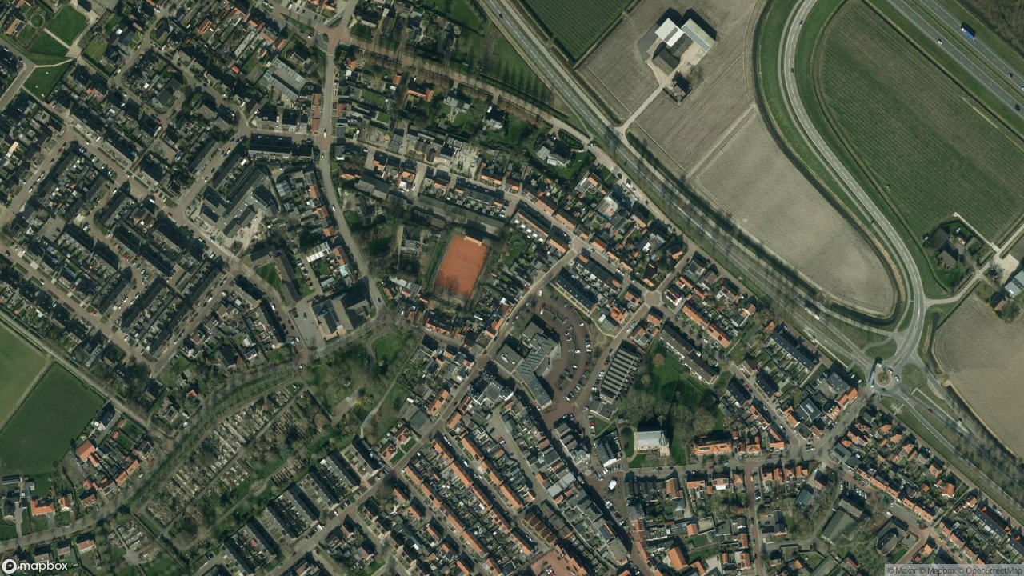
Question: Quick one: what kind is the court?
tennis court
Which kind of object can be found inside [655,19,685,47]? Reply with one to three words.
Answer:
barn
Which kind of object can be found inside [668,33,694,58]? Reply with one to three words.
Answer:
barn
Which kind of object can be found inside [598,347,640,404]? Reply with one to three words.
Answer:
building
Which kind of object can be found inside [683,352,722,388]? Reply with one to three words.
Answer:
building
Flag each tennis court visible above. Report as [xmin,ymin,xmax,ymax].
[436,233,489,297]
